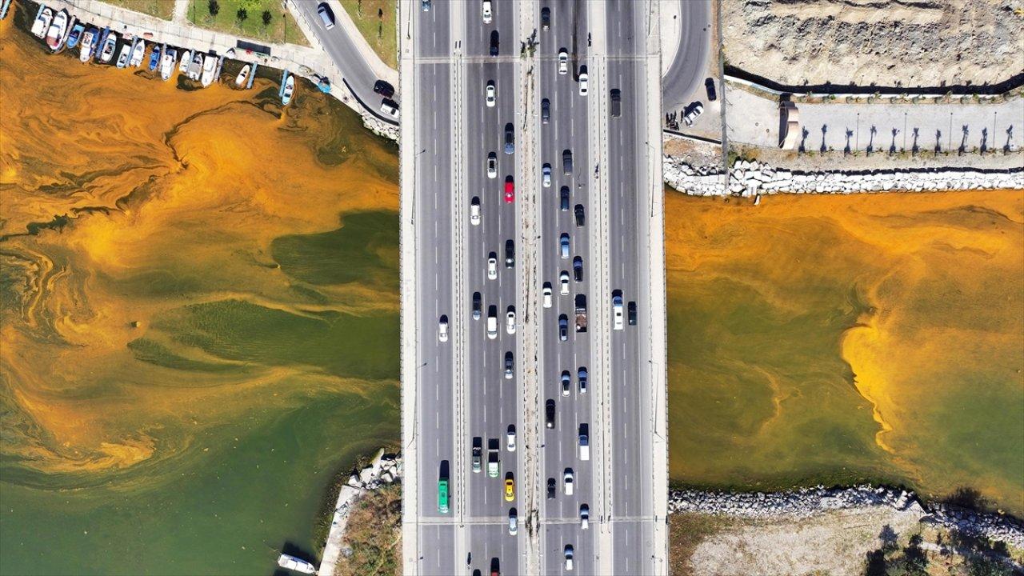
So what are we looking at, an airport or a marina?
marina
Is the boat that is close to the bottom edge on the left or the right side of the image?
left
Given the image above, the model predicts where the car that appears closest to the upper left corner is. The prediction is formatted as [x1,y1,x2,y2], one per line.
[318,5,333,26]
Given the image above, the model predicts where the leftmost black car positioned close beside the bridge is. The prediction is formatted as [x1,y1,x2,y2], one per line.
[374,81,395,97]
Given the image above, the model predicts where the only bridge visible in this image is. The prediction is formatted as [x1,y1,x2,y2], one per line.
[398,0,669,576]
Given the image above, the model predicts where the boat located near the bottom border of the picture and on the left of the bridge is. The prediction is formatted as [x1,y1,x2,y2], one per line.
[278,554,317,574]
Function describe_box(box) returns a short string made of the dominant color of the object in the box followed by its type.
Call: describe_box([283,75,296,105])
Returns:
white boat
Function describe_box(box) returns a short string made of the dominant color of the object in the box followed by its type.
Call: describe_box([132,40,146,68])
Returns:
white boat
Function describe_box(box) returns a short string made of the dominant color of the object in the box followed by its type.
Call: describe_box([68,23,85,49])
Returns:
blue boat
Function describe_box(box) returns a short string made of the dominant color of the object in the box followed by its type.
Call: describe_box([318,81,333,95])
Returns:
blue boat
